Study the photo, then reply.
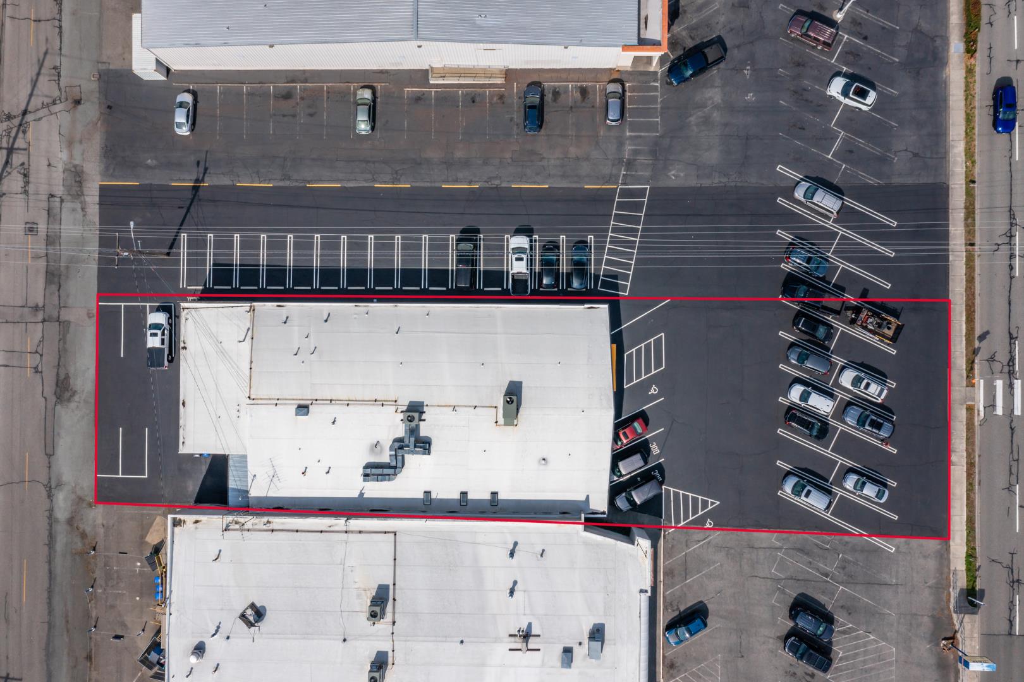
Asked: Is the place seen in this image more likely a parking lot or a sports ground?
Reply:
parking lot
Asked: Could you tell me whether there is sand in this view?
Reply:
No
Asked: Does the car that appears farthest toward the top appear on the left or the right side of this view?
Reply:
right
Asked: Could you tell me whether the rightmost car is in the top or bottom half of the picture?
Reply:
top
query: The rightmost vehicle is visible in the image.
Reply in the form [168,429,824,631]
[990,85,1019,133]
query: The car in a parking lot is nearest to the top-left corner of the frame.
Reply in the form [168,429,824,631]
[172,92,197,137]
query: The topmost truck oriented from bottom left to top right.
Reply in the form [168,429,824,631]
[668,38,726,84]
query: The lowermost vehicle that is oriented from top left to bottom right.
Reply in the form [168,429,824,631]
[781,634,837,678]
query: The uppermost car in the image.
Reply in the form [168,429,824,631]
[787,14,841,48]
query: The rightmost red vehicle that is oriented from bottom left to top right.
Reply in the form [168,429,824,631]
[612,419,651,451]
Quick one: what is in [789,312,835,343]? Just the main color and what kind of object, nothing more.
black car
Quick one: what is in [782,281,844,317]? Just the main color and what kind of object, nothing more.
black truck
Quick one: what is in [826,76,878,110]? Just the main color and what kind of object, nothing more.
white car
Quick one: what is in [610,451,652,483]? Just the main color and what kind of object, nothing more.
gray car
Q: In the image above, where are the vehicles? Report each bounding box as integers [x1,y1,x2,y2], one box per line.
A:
[842,407,896,441]
[603,82,625,126]
[782,474,834,512]
[610,451,652,483]
[664,611,710,643]
[521,83,544,134]
[172,92,197,137]
[613,477,665,514]
[353,88,375,136]
[539,242,561,290]
[782,281,844,317]
[785,344,834,377]
[146,310,174,370]
[569,242,591,290]
[786,606,835,642]
[787,14,841,48]
[793,182,845,216]
[668,38,726,84]
[782,243,827,275]
[781,634,837,678]
[455,234,479,290]
[789,312,835,343]
[826,76,878,110]
[612,419,651,451]
[841,471,890,504]
[787,384,836,417]
[838,368,890,402]
[990,85,1019,133]
[782,408,829,440]
[508,235,532,297]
